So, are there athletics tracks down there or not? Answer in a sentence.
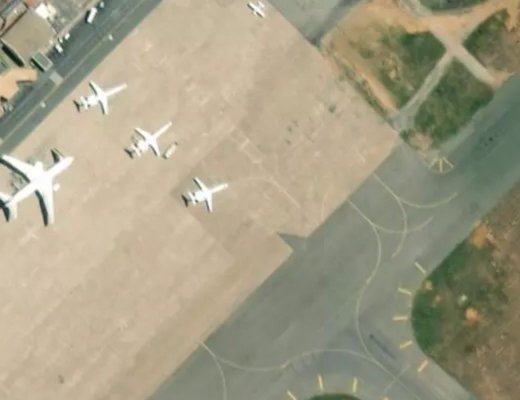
No, the photo shows no athletics track.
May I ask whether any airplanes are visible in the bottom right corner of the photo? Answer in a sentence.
No, no airplane is visible in the bottom right corner of the photo.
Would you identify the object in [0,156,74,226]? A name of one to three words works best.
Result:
airplane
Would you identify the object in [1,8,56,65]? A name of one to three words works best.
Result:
building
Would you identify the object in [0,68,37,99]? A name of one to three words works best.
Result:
building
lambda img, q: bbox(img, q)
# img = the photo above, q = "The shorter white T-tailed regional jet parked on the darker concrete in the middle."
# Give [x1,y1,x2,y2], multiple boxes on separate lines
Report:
[186,178,228,211]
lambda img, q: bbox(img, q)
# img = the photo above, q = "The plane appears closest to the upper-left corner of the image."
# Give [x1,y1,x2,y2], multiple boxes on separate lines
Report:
[80,82,126,114]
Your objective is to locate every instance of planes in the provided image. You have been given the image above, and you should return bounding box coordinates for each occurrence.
[80,82,126,114]
[130,122,171,158]
[0,156,74,226]
[248,0,265,17]
[186,178,228,211]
